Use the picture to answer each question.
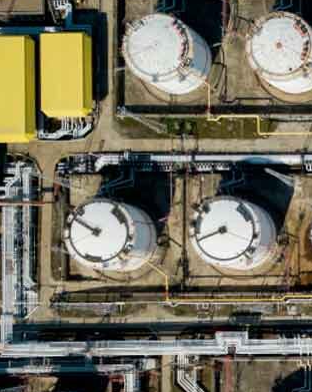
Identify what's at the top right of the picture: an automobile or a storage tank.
storage tank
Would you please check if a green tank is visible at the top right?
No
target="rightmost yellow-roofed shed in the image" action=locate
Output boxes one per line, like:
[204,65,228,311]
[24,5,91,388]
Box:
[40,29,95,116]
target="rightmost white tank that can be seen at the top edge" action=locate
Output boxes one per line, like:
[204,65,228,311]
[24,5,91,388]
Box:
[246,10,312,97]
